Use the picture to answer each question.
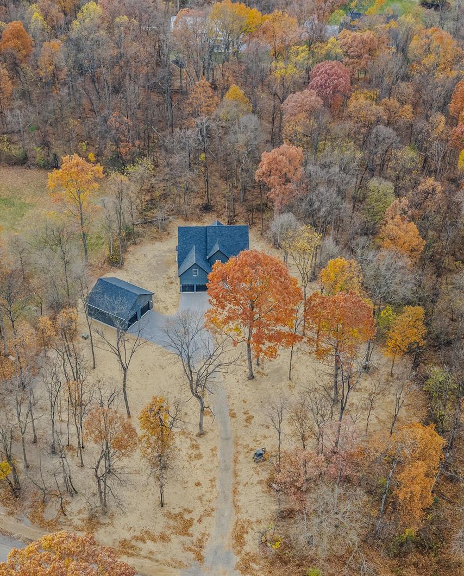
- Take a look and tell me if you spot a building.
Yes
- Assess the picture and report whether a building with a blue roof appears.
Yes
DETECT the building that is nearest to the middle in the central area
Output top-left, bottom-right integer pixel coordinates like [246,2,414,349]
[174,218,251,295]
